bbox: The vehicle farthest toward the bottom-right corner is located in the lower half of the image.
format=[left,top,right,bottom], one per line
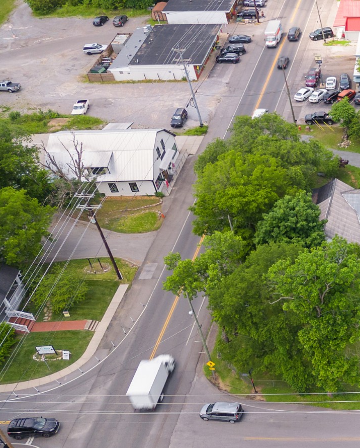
[198,400,247,425]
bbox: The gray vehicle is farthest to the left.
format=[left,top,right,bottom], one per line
[0,81,24,93]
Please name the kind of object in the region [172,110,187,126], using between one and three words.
car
